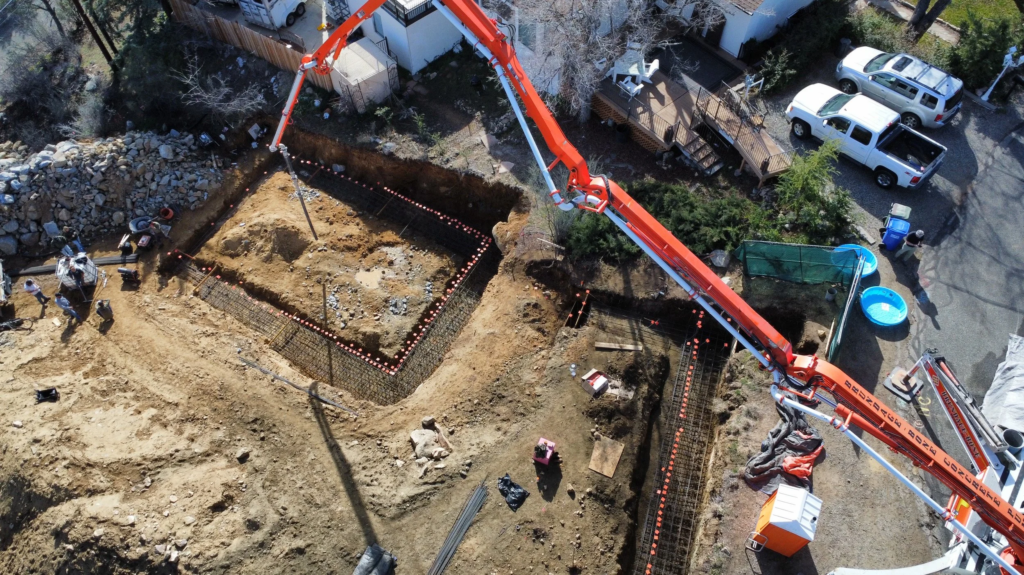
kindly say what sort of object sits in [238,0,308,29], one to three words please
trailer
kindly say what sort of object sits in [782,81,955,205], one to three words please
truck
